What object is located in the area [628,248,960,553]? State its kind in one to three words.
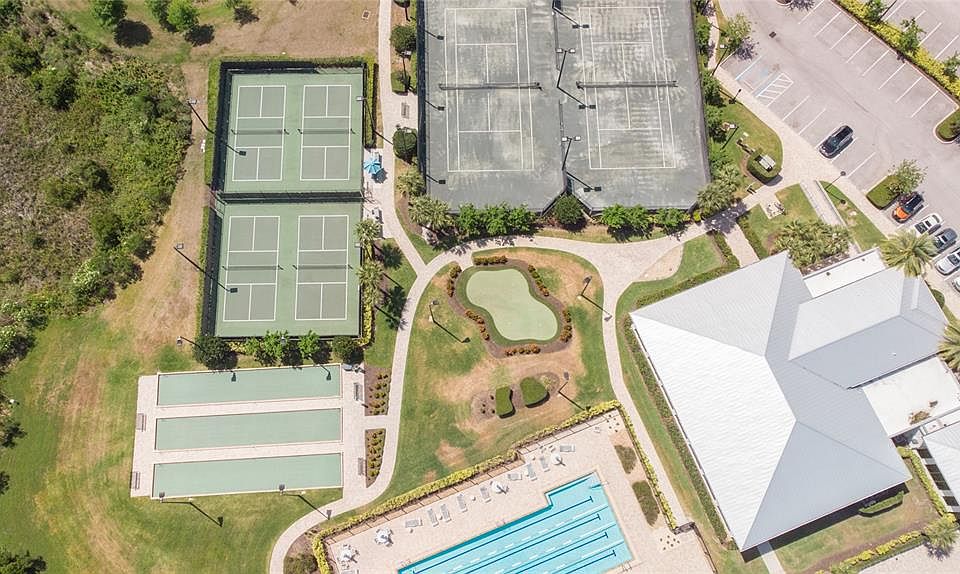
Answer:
building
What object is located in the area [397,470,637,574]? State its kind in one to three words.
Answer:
swimming pool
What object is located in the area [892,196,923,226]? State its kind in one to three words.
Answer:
car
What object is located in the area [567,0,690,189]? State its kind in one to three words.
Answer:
tennis court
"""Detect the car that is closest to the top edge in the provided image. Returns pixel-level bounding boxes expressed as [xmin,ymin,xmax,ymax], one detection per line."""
[818,125,853,158]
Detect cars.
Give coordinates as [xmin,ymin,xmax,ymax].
[952,269,960,288]
[892,196,923,226]
[908,215,941,246]
[924,229,958,261]
[937,240,960,273]
[818,125,853,158]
